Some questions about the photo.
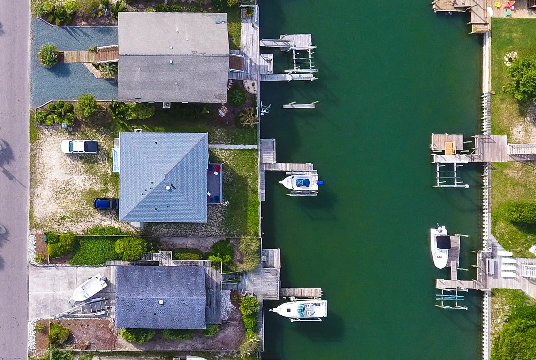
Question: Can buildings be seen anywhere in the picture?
Yes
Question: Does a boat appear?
Yes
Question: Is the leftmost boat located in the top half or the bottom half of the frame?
bottom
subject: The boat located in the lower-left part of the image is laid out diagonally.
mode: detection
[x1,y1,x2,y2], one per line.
[72,270,110,300]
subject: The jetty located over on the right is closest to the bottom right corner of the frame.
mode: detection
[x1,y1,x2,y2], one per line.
[431,233,477,289]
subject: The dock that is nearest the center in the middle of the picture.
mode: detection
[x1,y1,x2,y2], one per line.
[259,138,316,200]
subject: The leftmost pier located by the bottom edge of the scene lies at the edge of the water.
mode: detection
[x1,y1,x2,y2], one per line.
[236,249,323,351]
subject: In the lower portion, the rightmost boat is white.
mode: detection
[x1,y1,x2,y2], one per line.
[431,222,451,269]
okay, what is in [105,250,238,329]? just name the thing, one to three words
house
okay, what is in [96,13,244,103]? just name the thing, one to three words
house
